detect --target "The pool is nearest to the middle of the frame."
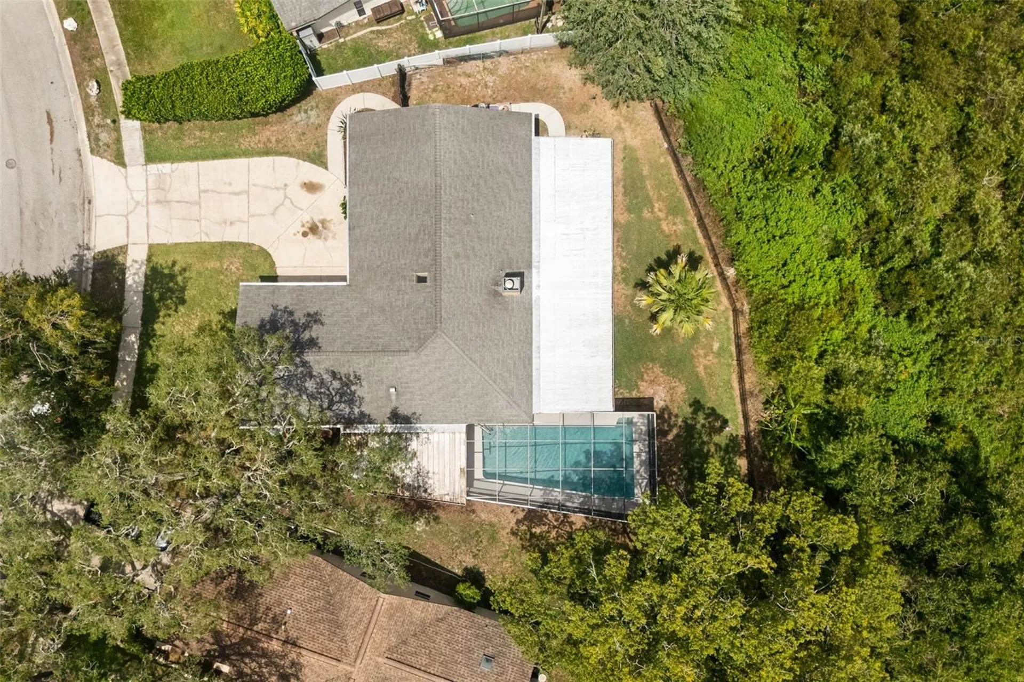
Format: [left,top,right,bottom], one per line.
[476,413,640,502]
